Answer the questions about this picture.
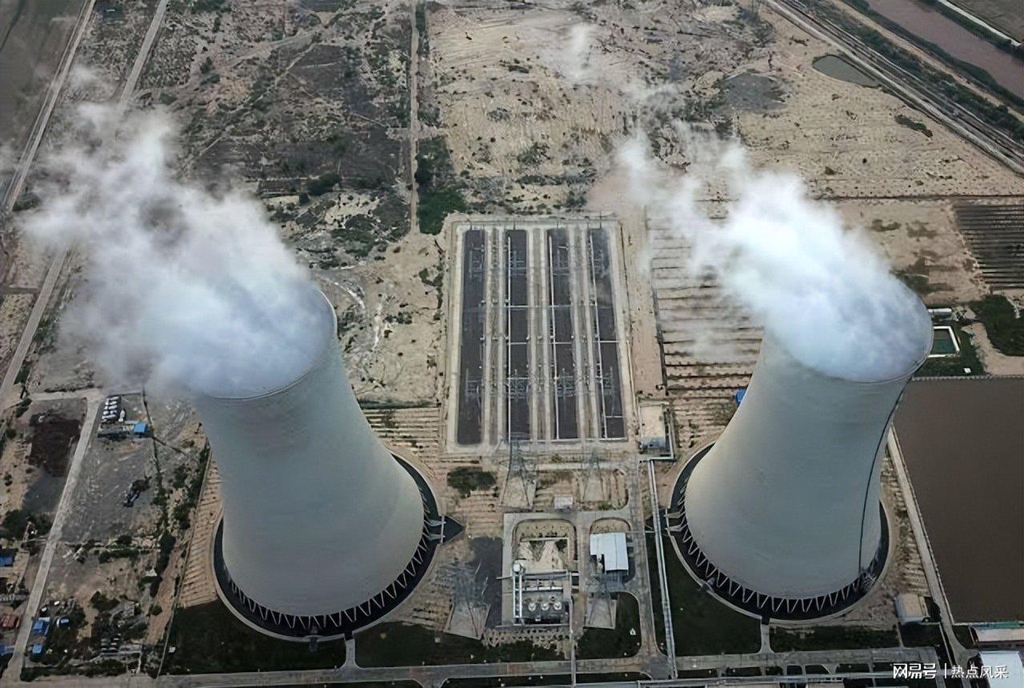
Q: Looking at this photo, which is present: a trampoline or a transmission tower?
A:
transmission tower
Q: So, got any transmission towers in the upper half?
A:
No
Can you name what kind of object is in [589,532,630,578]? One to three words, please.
building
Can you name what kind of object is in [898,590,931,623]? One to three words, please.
building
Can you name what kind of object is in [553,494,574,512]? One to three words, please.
shed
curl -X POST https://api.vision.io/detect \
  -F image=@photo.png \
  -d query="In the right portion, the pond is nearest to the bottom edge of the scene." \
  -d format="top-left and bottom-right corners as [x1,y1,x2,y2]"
[896,379,1024,623]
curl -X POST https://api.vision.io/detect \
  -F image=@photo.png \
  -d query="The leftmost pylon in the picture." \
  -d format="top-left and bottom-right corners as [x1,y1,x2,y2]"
[423,561,501,637]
